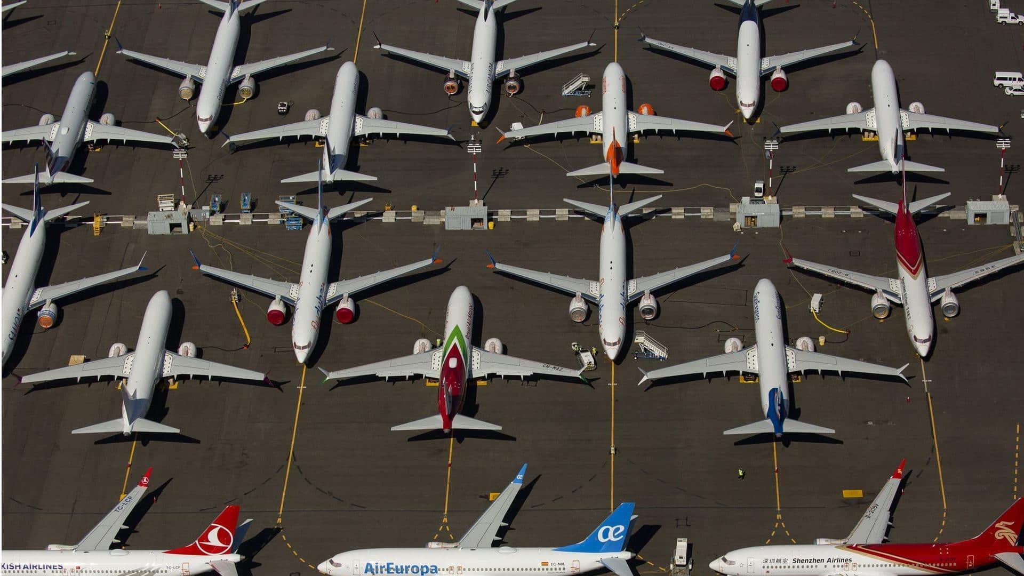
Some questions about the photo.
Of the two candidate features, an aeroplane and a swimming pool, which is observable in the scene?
aeroplane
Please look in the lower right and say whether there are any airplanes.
Yes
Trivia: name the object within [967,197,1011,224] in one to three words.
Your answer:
shed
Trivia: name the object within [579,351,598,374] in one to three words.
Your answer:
vehicle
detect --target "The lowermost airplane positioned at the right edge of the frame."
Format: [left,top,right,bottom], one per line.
[709,458,1024,576]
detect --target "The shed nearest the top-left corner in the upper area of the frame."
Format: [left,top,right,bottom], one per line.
[146,207,191,234]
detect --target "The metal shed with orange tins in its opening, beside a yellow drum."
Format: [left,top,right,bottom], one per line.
[443,202,489,230]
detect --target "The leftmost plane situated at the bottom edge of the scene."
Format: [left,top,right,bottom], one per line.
[0,467,253,576]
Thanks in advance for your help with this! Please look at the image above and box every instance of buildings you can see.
[967,197,1011,224]
[443,202,489,230]
[735,199,781,227]
[146,207,191,234]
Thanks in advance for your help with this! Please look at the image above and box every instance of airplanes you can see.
[0,163,148,360]
[0,467,253,576]
[772,61,1010,174]
[637,0,862,122]
[373,0,596,125]
[486,158,739,361]
[638,280,909,438]
[190,160,442,364]
[318,287,587,433]
[220,63,456,185]
[782,152,1024,358]
[496,64,733,177]
[0,73,181,186]
[317,463,638,576]
[8,291,275,436]
[114,0,336,135]
[709,458,1024,576]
